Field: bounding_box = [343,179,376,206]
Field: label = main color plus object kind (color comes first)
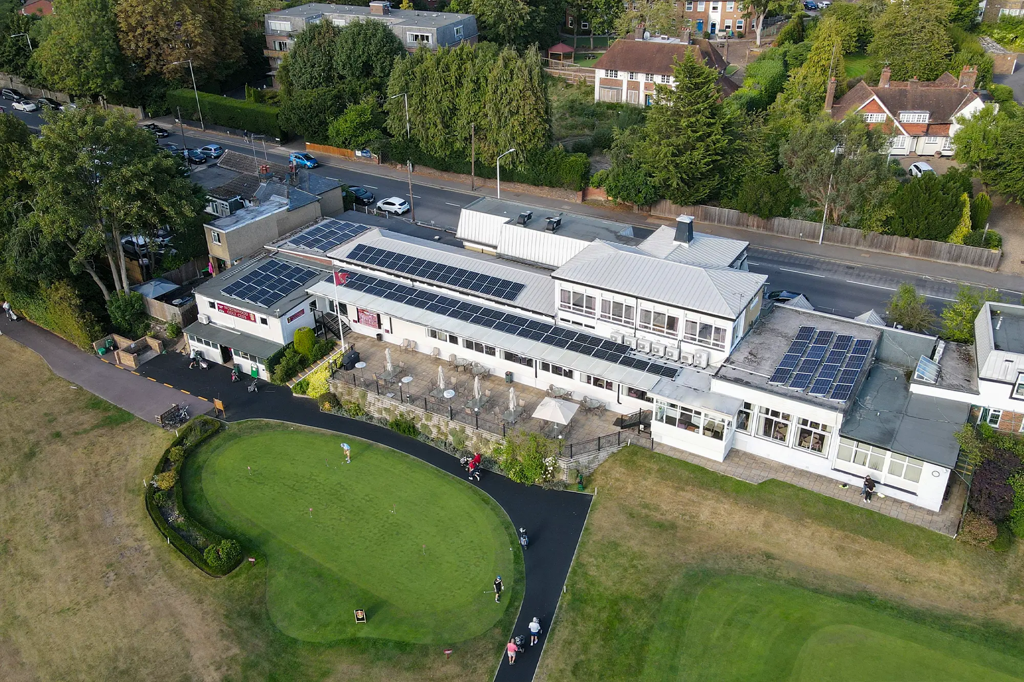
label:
black car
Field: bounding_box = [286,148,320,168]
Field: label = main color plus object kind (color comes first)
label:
blue car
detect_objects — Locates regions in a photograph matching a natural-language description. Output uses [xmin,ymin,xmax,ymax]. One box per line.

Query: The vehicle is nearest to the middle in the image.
[373,193,411,214]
